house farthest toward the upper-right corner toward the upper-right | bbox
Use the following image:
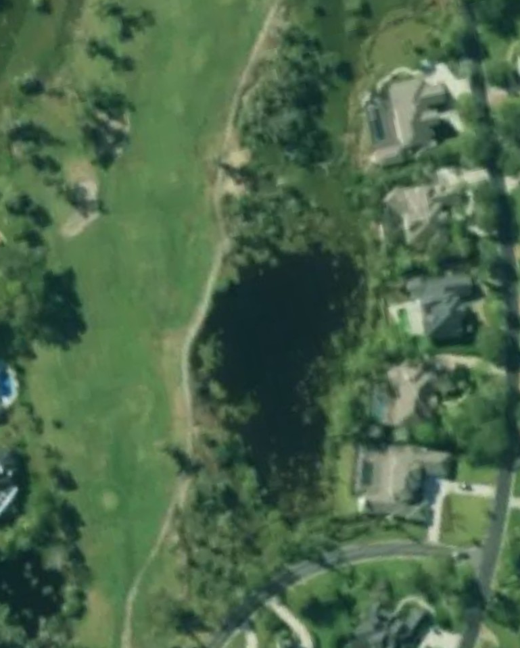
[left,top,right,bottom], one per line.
[371,77,451,168]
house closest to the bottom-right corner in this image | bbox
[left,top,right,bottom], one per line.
[347,606,438,648]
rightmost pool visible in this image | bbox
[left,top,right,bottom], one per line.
[397,308,412,337]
